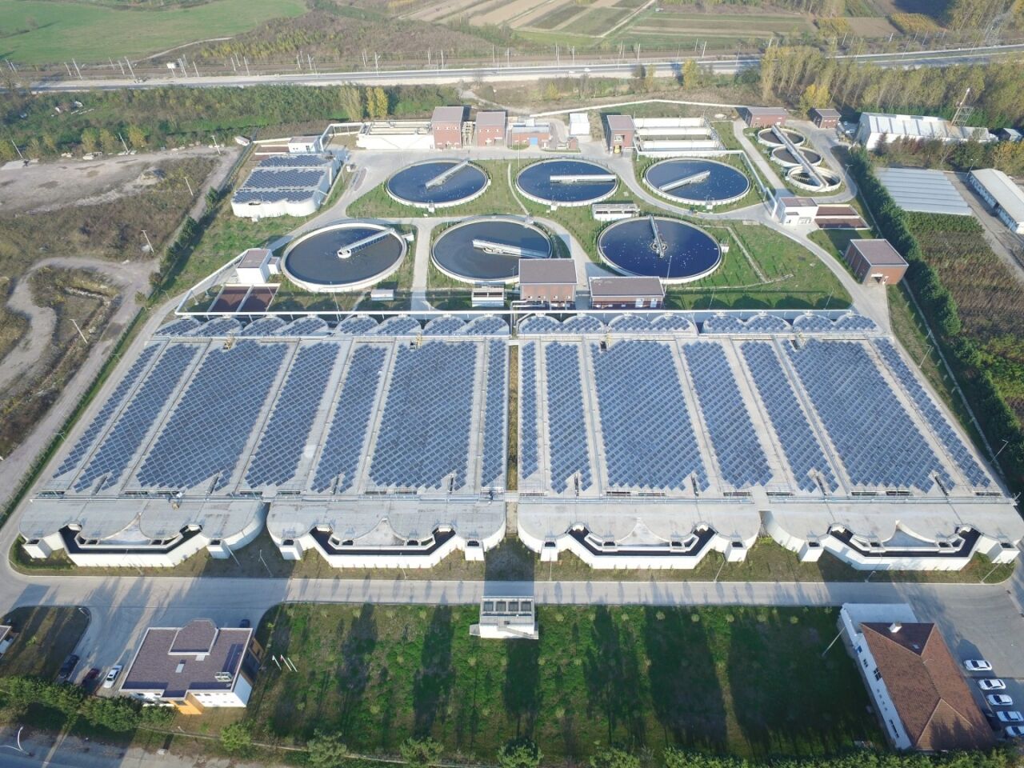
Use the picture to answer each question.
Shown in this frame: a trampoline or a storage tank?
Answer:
storage tank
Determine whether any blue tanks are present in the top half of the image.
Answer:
Yes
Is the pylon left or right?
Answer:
right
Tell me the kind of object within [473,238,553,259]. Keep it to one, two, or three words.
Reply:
bridge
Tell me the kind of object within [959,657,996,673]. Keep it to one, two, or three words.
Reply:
car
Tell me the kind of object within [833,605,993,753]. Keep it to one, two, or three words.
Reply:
house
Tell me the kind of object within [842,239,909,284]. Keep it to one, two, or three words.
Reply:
building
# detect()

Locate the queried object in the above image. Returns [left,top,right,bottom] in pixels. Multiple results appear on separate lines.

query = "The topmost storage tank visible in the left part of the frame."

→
[359,119,433,149]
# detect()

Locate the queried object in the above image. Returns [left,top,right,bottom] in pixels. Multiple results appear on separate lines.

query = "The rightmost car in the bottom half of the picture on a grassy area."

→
[238,610,252,628]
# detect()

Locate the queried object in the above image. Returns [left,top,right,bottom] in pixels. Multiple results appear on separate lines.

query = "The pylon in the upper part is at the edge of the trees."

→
[977,0,1022,47]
